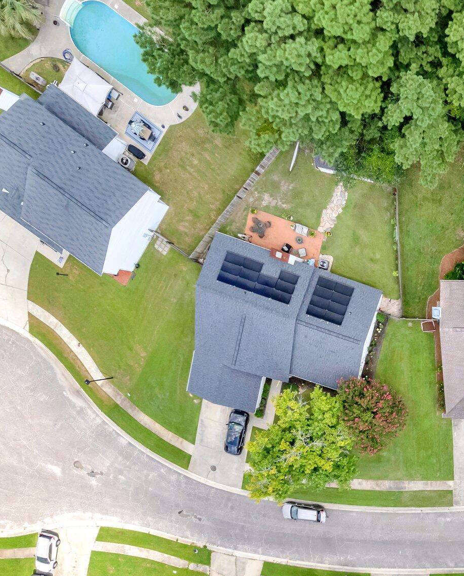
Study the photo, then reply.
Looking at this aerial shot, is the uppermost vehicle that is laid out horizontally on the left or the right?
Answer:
right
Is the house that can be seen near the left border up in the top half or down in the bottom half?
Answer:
top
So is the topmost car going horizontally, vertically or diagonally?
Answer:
vertically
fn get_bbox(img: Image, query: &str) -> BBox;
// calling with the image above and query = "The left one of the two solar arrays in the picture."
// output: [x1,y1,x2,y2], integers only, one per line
[213,251,300,303]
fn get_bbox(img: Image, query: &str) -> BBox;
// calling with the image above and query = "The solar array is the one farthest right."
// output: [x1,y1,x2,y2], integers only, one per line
[306,277,354,325]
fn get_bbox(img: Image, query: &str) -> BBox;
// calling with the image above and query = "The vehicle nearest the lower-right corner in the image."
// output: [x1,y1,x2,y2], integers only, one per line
[281,501,328,523]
